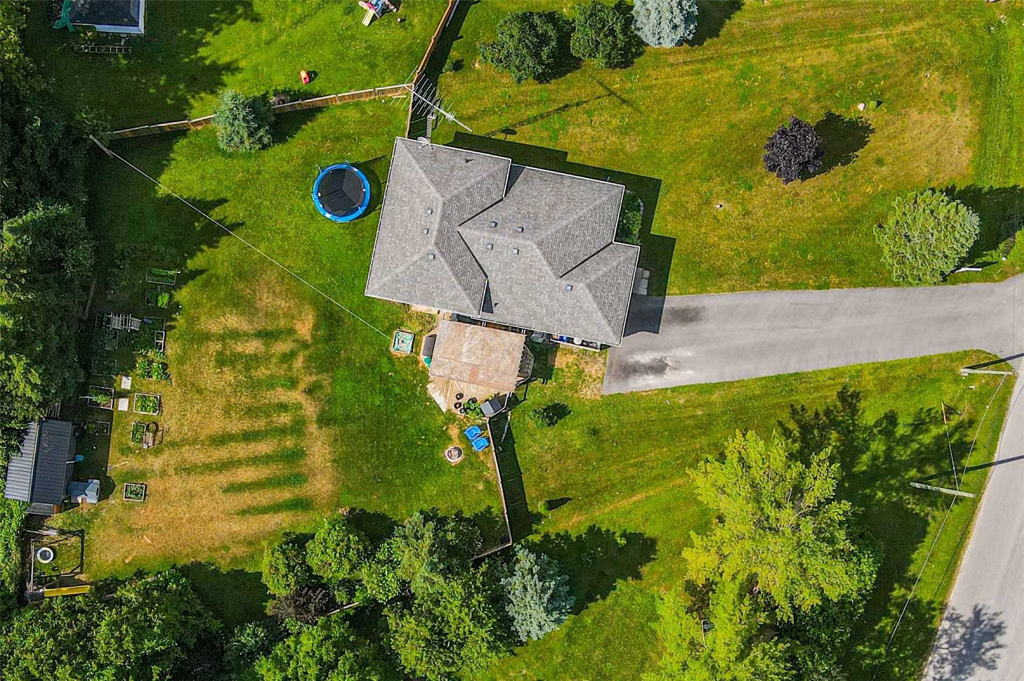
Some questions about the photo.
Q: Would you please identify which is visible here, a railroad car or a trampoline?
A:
trampoline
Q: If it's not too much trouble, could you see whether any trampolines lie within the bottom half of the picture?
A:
Yes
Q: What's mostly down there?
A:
grass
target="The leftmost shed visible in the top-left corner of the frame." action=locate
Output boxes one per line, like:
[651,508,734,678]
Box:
[67,0,146,35]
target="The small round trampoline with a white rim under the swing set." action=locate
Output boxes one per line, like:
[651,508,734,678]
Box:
[37,547,54,564]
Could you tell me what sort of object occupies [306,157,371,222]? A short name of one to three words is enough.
trampoline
